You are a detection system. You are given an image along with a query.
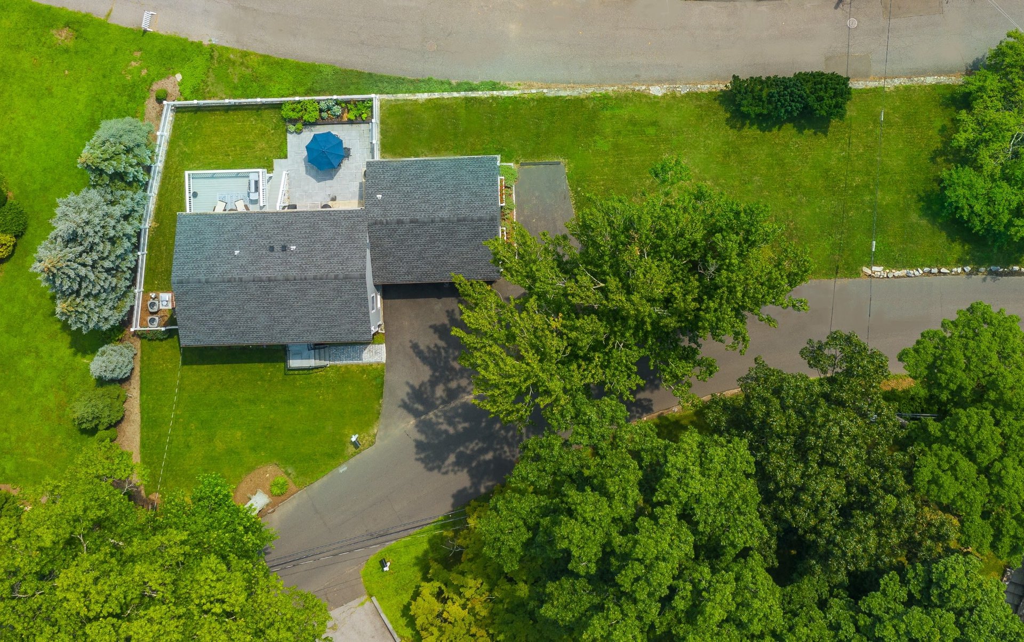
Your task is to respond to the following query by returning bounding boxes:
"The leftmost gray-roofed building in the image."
[170,208,387,347]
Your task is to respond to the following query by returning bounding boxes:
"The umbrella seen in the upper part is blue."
[305,132,345,172]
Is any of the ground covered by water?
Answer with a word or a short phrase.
No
